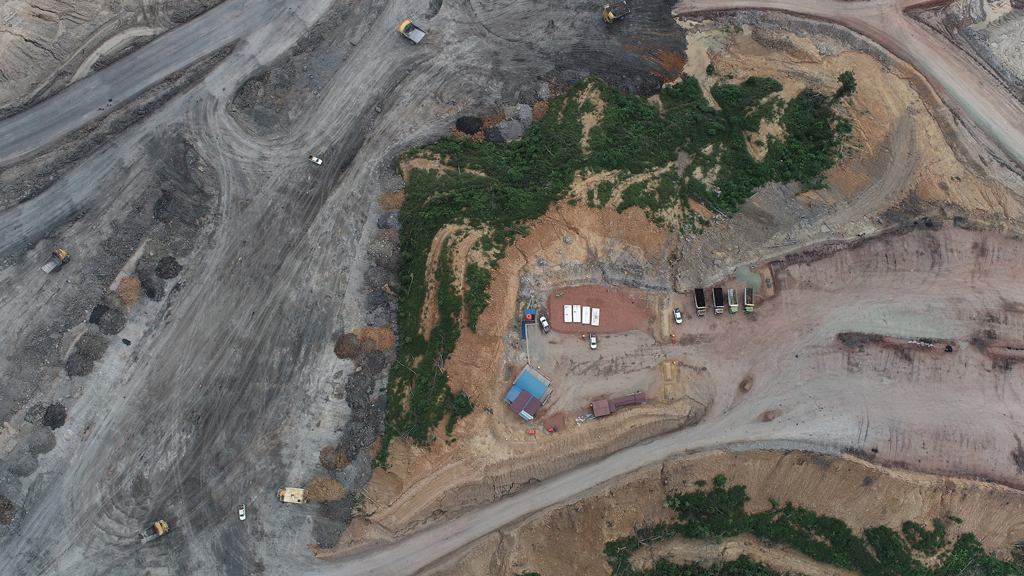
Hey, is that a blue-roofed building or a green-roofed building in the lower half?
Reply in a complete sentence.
What appears in the lower half is a blue-roofed building.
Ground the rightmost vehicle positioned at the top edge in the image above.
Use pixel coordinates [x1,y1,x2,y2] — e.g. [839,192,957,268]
[599,0,631,25]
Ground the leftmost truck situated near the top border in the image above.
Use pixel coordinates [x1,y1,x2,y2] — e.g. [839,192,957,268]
[398,18,426,45]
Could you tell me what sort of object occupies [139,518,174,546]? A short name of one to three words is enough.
truck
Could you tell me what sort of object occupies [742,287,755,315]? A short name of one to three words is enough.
vehicle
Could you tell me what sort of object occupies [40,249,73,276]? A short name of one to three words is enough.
truck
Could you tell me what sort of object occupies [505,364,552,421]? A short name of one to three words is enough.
building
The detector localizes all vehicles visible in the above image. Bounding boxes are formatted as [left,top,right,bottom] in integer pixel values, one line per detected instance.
[673,308,682,324]
[694,288,707,317]
[727,288,739,316]
[308,154,323,165]
[599,0,631,25]
[139,518,174,546]
[742,287,755,315]
[539,316,550,333]
[40,249,73,276]
[238,503,246,521]
[590,333,597,350]
[712,288,724,316]
[398,18,426,45]
[277,487,309,505]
